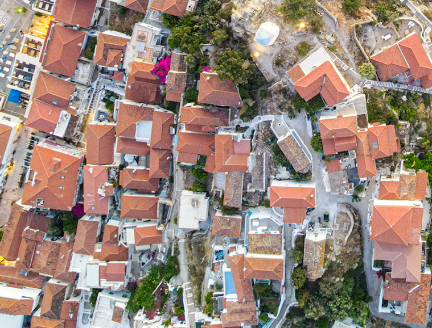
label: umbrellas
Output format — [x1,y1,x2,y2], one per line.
[7,88,22,103]
[125,153,134,163]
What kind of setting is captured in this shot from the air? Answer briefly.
residential area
